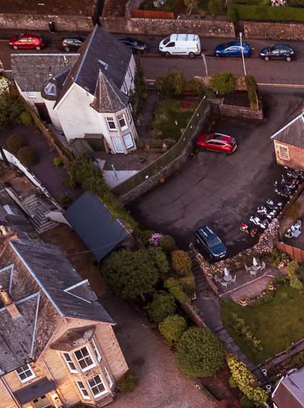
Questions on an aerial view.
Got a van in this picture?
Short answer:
Yes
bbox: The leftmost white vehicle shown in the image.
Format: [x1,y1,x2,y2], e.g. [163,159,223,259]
[157,32,205,60]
